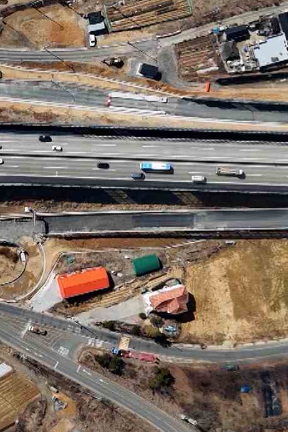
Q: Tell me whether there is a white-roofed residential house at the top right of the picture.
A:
Yes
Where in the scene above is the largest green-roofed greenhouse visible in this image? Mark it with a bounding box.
[129,253,160,275]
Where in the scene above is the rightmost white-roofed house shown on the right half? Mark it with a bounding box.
[246,35,288,68]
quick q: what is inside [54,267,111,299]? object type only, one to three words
barn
